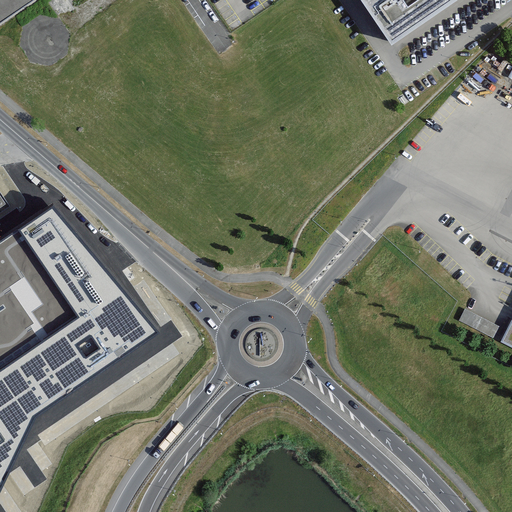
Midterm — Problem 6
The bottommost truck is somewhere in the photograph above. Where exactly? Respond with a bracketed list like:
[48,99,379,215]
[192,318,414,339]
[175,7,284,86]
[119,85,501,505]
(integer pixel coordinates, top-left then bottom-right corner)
[155,424,183,456]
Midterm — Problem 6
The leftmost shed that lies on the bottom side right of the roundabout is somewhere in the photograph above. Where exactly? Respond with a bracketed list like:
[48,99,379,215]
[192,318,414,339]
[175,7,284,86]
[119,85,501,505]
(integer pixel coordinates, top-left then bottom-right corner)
[459,308,500,338]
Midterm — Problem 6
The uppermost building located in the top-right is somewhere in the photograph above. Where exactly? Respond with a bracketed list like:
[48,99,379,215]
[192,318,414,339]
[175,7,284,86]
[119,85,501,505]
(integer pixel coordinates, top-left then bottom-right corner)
[359,0,460,46]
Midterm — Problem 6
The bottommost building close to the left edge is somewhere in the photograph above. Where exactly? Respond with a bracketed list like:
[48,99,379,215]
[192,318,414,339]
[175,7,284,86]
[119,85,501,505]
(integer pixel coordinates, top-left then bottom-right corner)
[0,204,160,488]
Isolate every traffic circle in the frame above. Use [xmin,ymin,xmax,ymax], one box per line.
[216,300,307,390]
